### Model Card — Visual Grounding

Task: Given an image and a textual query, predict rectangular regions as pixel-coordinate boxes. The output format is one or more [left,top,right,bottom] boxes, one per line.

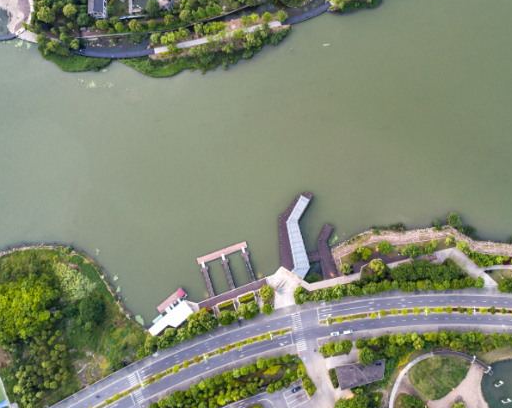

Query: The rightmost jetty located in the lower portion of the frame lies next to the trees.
[308,223,339,279]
